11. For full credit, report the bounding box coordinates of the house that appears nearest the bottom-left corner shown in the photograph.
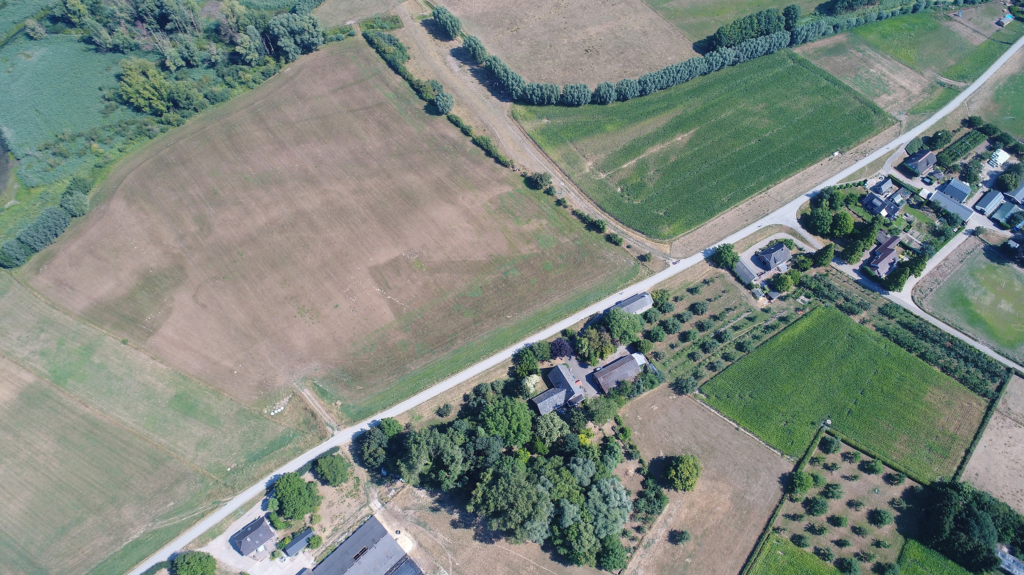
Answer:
[233,515,277,558]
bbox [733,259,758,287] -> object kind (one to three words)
building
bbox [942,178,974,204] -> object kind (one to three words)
barn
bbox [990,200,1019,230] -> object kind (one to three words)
shed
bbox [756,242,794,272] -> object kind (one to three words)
house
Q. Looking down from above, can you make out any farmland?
Yes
